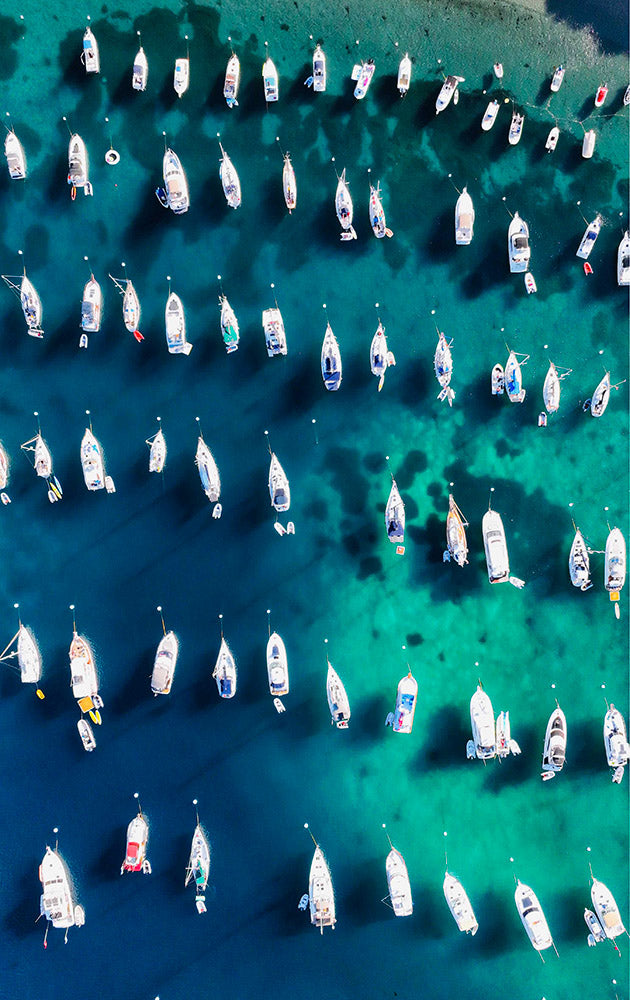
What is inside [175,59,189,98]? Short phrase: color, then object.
white boat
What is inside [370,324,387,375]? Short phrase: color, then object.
white boat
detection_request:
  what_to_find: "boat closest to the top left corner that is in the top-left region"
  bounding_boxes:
[82,27,101,76]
